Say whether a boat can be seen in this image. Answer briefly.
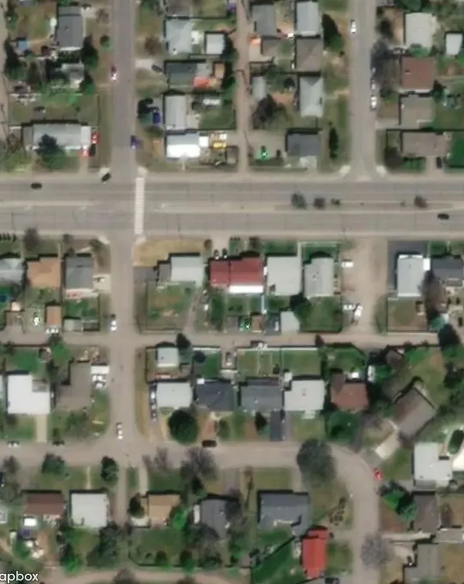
No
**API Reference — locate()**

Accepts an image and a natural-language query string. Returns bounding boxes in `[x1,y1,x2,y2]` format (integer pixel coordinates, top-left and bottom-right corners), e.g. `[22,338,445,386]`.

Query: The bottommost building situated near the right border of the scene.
[405,542,441,584]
